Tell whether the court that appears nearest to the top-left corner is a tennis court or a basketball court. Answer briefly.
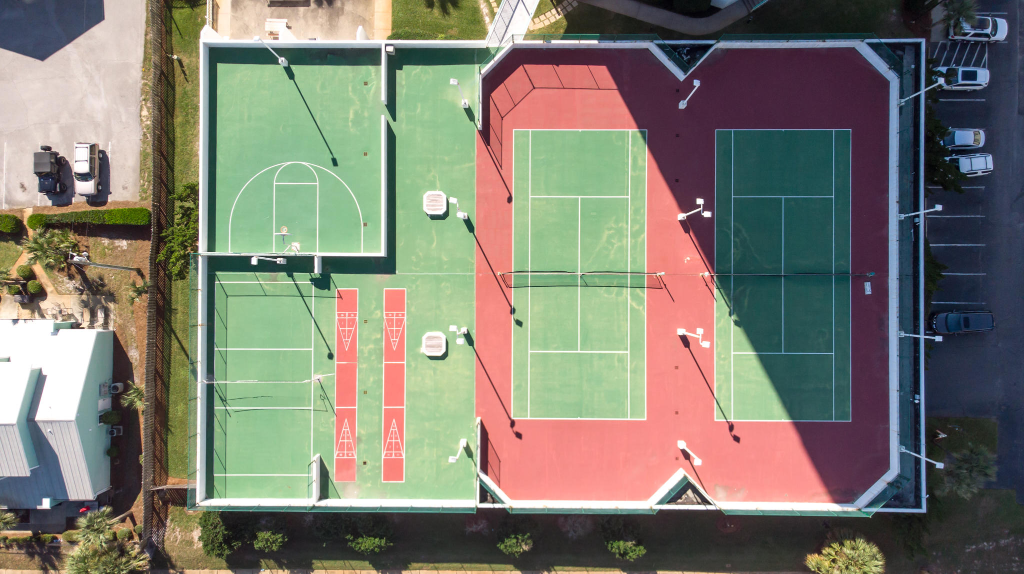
basketball court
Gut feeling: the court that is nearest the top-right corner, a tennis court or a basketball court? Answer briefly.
tennis court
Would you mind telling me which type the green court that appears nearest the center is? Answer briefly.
tennis court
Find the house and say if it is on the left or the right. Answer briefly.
left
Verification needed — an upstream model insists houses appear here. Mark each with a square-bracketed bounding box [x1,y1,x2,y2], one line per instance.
[0,320,113,509]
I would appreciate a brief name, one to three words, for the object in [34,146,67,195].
vehicle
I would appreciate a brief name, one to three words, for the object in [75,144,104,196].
car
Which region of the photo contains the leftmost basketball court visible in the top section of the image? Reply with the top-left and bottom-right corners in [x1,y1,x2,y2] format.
[229,161,363,252]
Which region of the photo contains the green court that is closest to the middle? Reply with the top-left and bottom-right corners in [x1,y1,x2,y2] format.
[512,130,647,420]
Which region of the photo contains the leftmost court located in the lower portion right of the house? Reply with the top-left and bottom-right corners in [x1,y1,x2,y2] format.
[214,282,314,476]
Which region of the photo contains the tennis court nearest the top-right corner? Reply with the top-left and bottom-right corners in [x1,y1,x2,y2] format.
[716,130,851,421]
